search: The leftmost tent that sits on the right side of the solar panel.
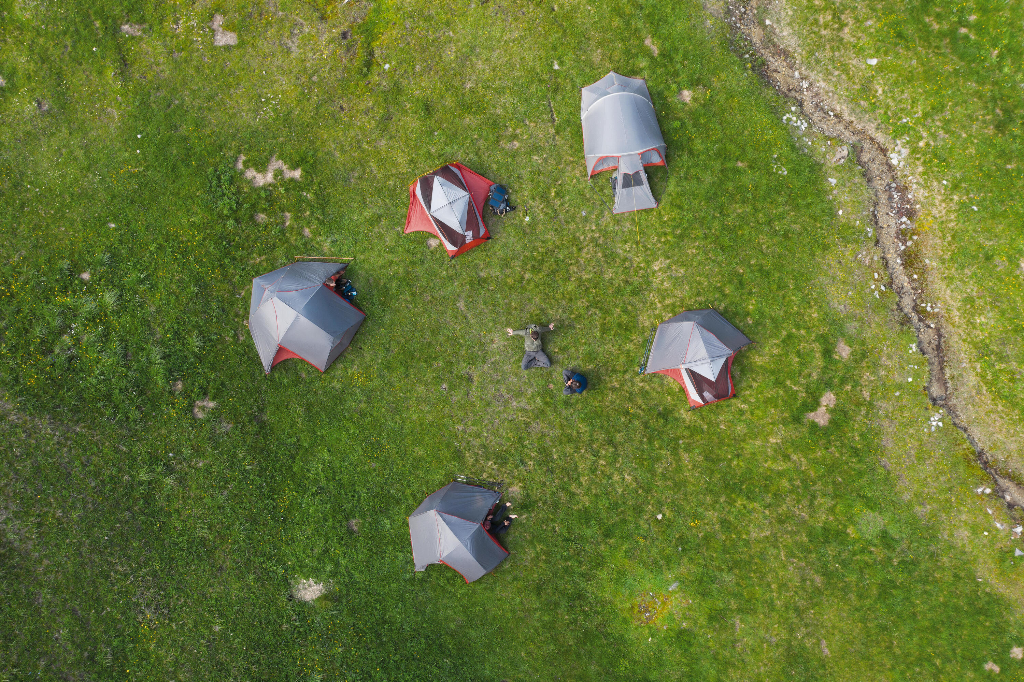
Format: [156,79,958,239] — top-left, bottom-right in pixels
[579,70,668,245]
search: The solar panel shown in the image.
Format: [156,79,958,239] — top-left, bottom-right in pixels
[489,186,507,208]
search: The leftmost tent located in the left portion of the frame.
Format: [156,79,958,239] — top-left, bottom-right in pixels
[246,258,369,378]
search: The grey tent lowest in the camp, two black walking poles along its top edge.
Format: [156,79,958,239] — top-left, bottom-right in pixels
[406,479,513,584]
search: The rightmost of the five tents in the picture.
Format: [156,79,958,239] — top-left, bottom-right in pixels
[643,304,755,415]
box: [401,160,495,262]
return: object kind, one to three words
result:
tent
